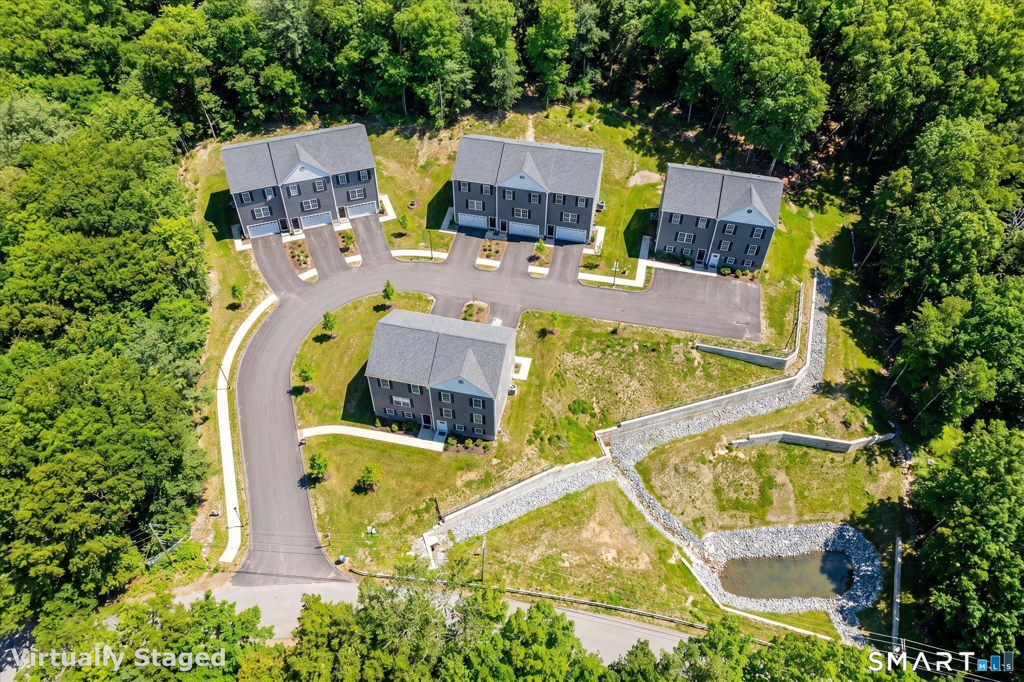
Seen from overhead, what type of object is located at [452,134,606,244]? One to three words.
house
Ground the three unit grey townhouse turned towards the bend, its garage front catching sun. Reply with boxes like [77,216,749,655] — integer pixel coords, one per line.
[221,123,380,239]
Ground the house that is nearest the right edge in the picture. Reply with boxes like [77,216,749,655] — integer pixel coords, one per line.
[654,161,783,270]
